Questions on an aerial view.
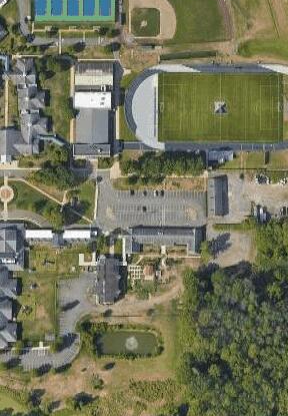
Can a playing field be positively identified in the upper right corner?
Yes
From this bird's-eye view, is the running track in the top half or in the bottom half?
top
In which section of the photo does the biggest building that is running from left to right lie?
center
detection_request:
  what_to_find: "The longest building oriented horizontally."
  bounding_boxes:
[123,226,207,253]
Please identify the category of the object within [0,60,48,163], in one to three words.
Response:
building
